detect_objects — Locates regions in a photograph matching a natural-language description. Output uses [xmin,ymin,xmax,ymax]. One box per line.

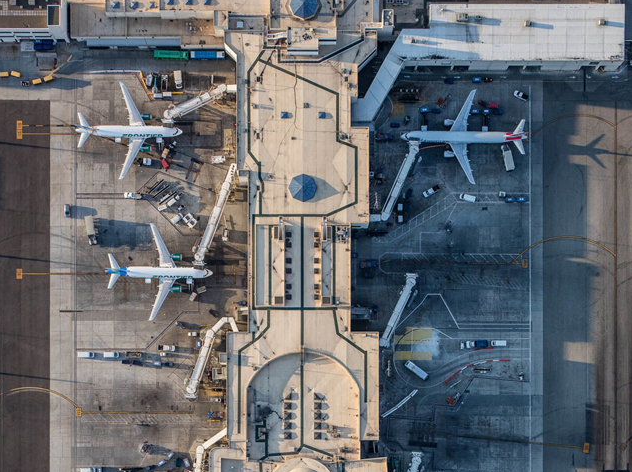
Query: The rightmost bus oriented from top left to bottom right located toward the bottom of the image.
[403,358,429,379]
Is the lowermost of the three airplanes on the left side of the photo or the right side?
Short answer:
left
